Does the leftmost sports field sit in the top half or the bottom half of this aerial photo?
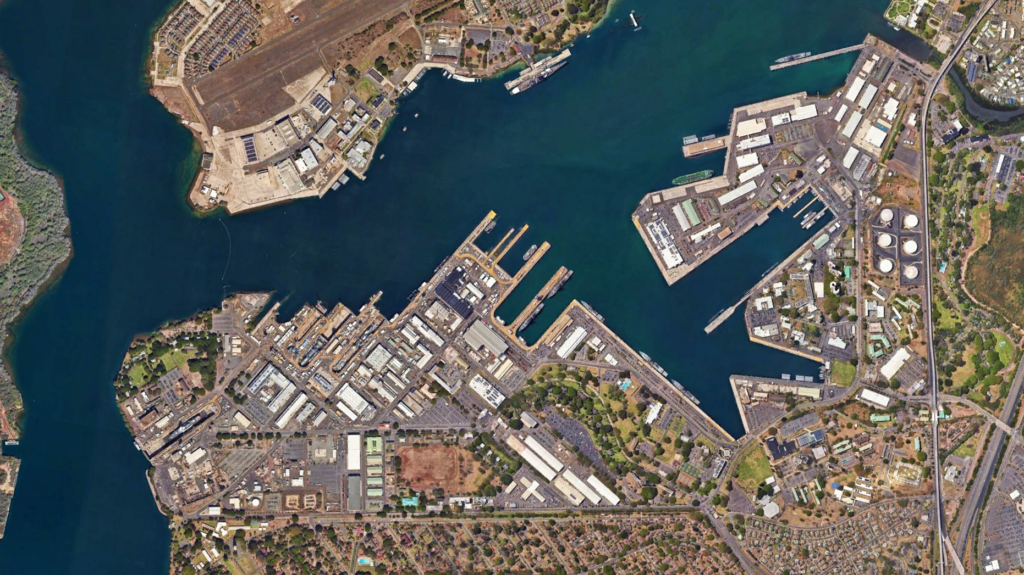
bottom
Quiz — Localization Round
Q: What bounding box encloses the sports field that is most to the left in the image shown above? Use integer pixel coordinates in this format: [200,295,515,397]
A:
[398,444,460,492]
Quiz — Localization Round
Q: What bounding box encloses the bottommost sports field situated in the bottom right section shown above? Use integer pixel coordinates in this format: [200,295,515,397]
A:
[737,446,773,490]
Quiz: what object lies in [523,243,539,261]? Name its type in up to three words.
ship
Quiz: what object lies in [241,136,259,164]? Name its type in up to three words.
hangar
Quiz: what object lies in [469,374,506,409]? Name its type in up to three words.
building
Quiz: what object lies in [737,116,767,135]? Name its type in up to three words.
building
